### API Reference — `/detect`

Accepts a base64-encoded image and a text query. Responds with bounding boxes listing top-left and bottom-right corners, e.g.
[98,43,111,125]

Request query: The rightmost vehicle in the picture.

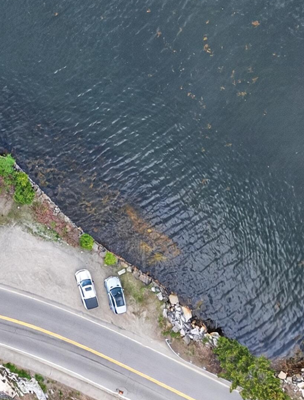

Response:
[106,276,131,318]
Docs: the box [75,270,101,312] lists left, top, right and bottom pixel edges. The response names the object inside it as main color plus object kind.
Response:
white truck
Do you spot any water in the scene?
Yes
